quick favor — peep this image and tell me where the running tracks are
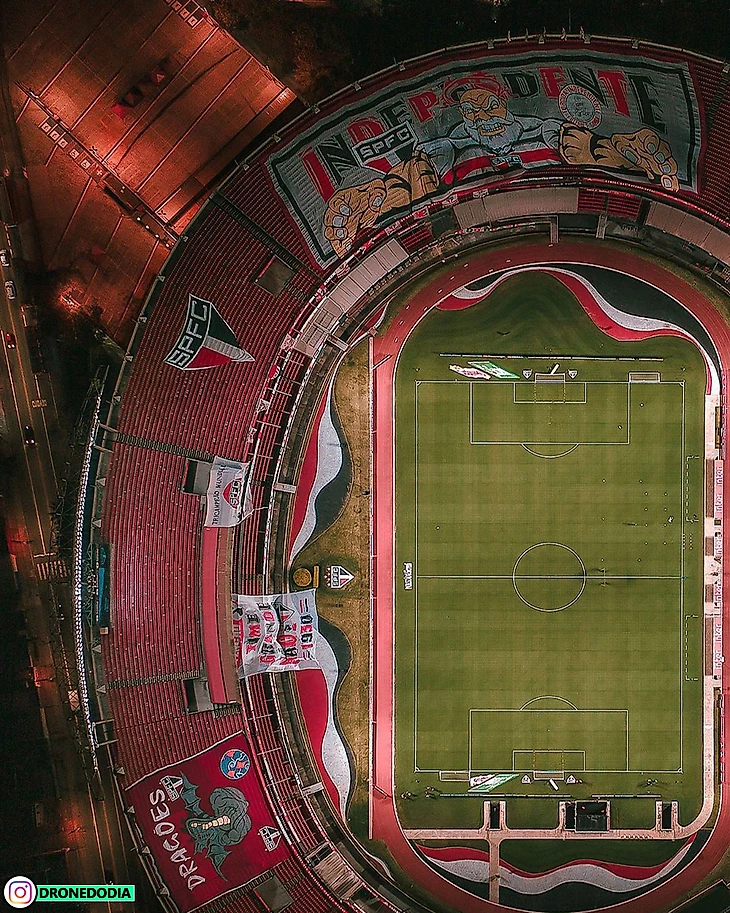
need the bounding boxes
[373,242,730,913]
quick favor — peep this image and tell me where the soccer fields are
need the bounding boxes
[398,357,705,797]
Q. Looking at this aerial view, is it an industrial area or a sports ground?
sports ground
